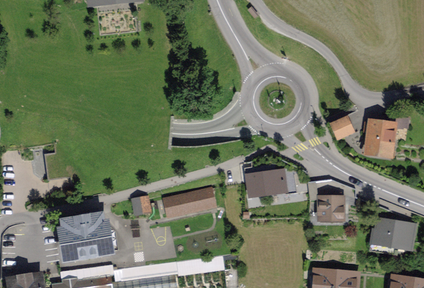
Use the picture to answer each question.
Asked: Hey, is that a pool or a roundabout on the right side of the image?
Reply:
roundabout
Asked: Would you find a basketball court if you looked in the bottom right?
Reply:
No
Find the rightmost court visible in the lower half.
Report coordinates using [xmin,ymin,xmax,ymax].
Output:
[148,226,176,261]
